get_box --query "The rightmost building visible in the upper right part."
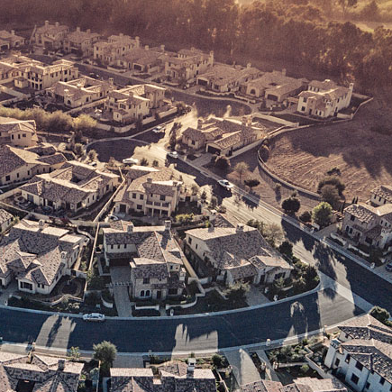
[291,79,359,117]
